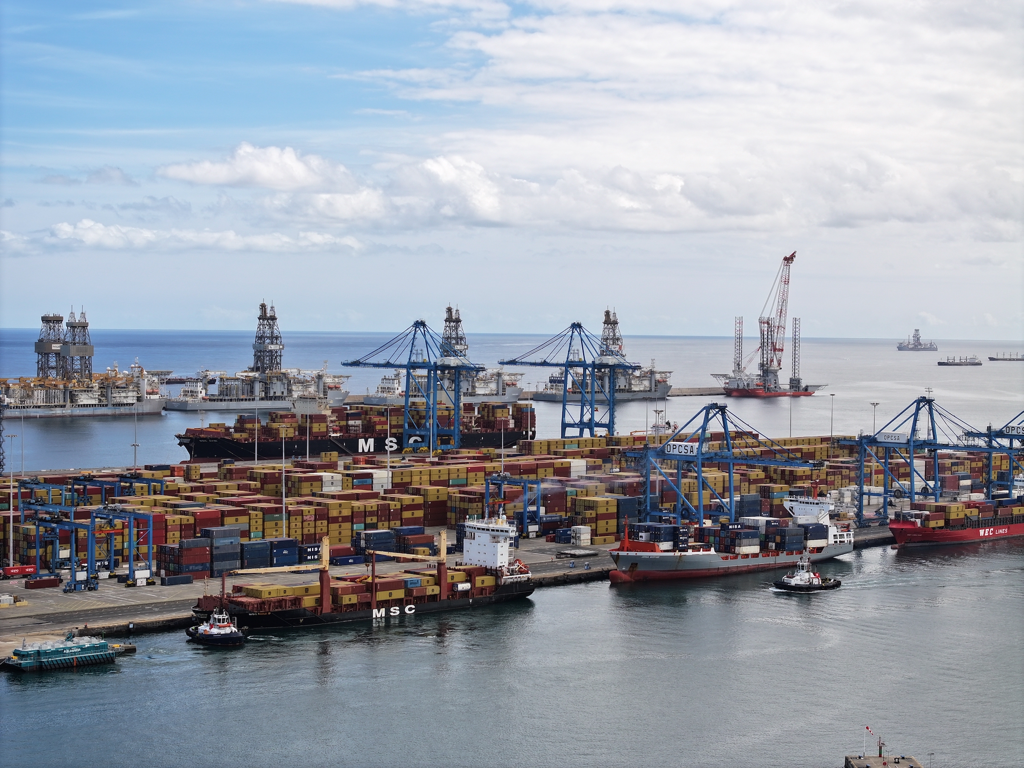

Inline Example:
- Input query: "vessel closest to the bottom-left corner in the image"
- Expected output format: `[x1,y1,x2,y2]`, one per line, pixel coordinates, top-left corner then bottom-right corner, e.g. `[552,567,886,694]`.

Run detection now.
[0,620,125,671]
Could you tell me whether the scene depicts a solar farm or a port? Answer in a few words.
port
